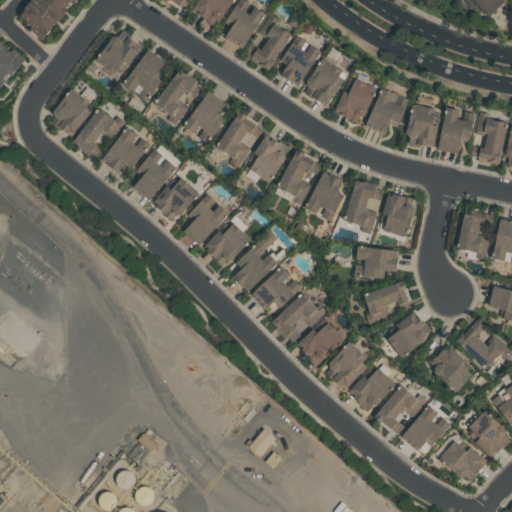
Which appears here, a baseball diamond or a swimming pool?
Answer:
swimming pool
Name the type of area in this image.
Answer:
residential area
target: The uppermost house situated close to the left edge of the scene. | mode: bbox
[24,0,80,34]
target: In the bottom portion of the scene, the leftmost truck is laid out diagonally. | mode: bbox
[80,457,101,482]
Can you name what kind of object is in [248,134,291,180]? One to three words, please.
house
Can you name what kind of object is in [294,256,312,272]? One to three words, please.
swimming pool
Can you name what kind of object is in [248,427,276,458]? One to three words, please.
shed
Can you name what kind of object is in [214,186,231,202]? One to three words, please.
swimming pool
